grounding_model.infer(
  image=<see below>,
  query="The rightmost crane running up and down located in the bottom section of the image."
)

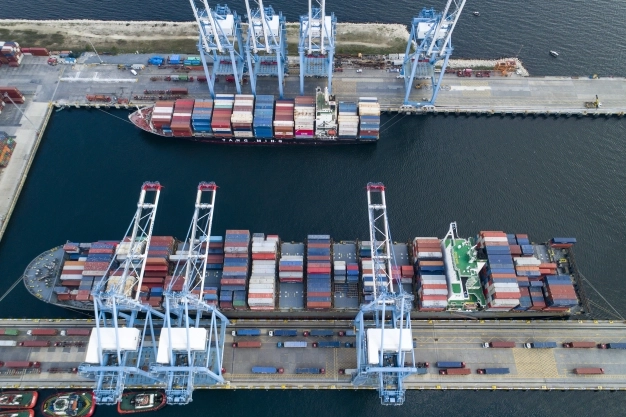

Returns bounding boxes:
[343,179,422,400]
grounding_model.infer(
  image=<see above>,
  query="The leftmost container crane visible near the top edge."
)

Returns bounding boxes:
[190,0,248,102]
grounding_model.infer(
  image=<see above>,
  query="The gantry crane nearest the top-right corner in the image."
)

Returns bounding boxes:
[395,0,461,105]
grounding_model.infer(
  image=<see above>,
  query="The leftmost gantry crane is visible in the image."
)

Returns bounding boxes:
[75,179,182,400]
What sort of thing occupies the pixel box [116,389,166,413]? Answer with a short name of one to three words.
boat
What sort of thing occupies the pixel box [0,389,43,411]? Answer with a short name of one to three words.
boat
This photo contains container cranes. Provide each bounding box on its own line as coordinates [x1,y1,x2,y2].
[75,179,182,400]
[190,0,248,102]
[147,179,238,400]
[395,0,461,105]
[343,179,422,400]
[244,0,290,103]
[295,0,337,103]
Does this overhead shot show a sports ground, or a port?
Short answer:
port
